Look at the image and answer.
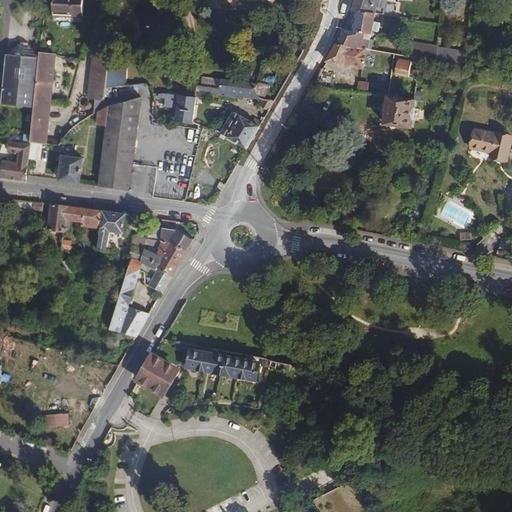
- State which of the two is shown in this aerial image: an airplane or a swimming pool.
swimming pool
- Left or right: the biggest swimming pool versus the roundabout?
right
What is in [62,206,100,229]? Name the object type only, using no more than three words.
house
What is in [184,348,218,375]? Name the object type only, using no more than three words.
house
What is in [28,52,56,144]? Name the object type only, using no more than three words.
building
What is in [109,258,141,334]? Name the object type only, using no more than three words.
building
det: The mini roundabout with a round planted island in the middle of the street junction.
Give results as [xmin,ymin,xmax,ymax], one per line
[190,169,298,279]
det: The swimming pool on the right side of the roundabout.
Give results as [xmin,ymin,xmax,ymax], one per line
[435,197,474,228]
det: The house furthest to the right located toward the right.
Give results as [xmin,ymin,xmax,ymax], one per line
[470,127,512,163]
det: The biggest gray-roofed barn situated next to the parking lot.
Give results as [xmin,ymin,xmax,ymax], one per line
[96,96,140,191]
